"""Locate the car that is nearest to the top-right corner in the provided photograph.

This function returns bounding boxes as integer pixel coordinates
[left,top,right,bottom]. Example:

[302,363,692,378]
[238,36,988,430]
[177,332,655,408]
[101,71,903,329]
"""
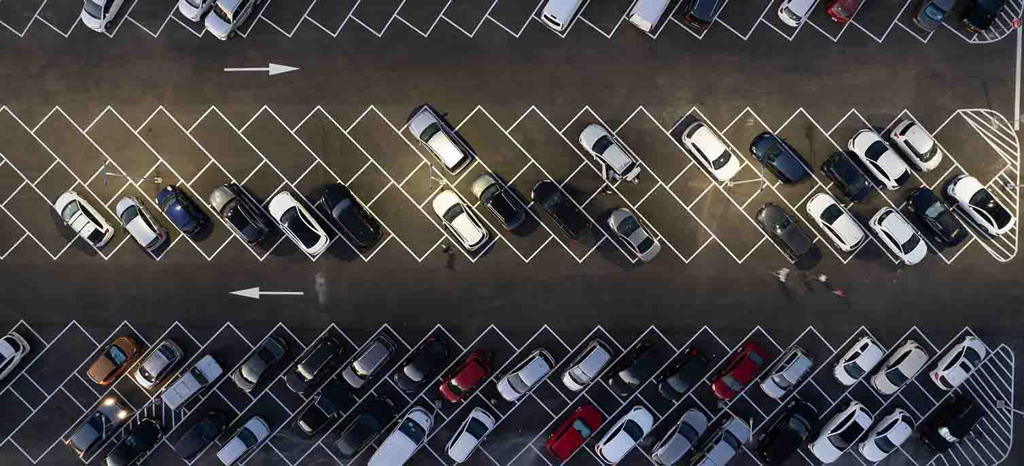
[961,0,1011,36]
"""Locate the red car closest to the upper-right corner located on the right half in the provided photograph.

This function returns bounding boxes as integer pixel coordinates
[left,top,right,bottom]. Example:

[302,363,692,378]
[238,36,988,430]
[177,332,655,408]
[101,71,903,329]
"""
[827,0,869,26]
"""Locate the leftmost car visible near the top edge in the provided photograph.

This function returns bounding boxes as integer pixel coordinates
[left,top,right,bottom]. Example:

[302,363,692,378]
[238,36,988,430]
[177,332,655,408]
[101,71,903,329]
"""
[83,0,131,34]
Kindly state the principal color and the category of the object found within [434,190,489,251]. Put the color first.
white car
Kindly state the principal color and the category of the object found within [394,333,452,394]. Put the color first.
black car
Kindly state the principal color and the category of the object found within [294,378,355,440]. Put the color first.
black truck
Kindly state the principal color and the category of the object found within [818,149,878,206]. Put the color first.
black car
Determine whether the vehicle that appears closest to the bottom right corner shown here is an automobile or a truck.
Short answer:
automobile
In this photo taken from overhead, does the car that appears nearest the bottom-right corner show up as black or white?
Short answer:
black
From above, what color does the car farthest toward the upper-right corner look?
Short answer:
black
